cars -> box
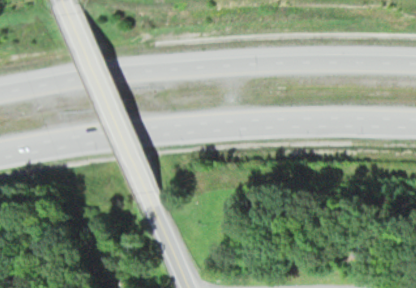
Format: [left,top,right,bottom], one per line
[86,126,96,132]
[18,147,30,152]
